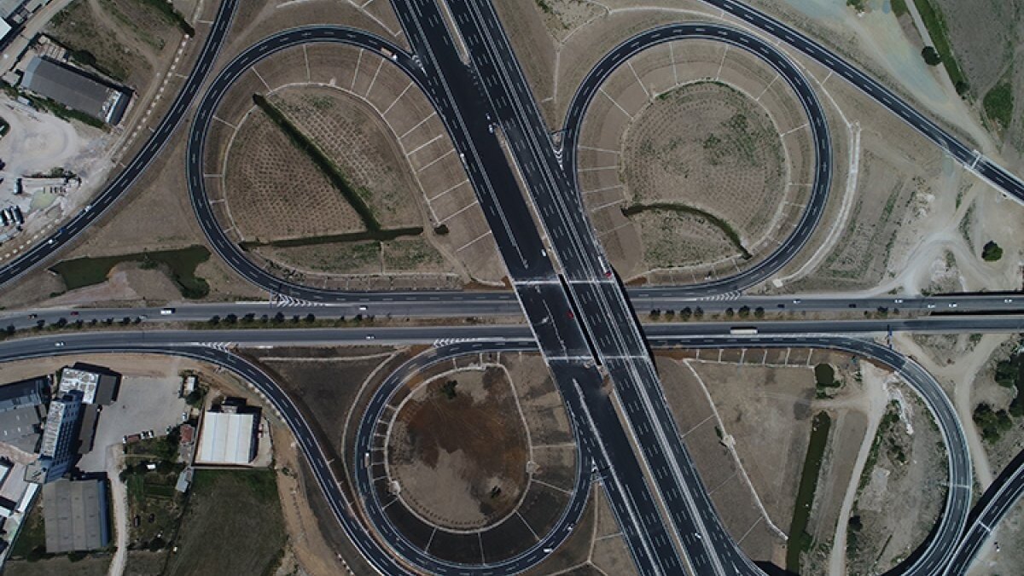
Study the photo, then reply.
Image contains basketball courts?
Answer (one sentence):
No, this view has no basketball court in it.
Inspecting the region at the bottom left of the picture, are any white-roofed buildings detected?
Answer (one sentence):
Yes, a white-roofed building shows up at the bottom left of the picture.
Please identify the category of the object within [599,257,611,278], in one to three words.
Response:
vehicle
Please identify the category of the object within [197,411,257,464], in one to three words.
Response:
building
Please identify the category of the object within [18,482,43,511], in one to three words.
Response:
shed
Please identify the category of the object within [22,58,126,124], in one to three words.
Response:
building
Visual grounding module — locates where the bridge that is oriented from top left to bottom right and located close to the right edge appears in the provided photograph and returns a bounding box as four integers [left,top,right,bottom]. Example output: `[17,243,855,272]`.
[973,157,1024,204]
